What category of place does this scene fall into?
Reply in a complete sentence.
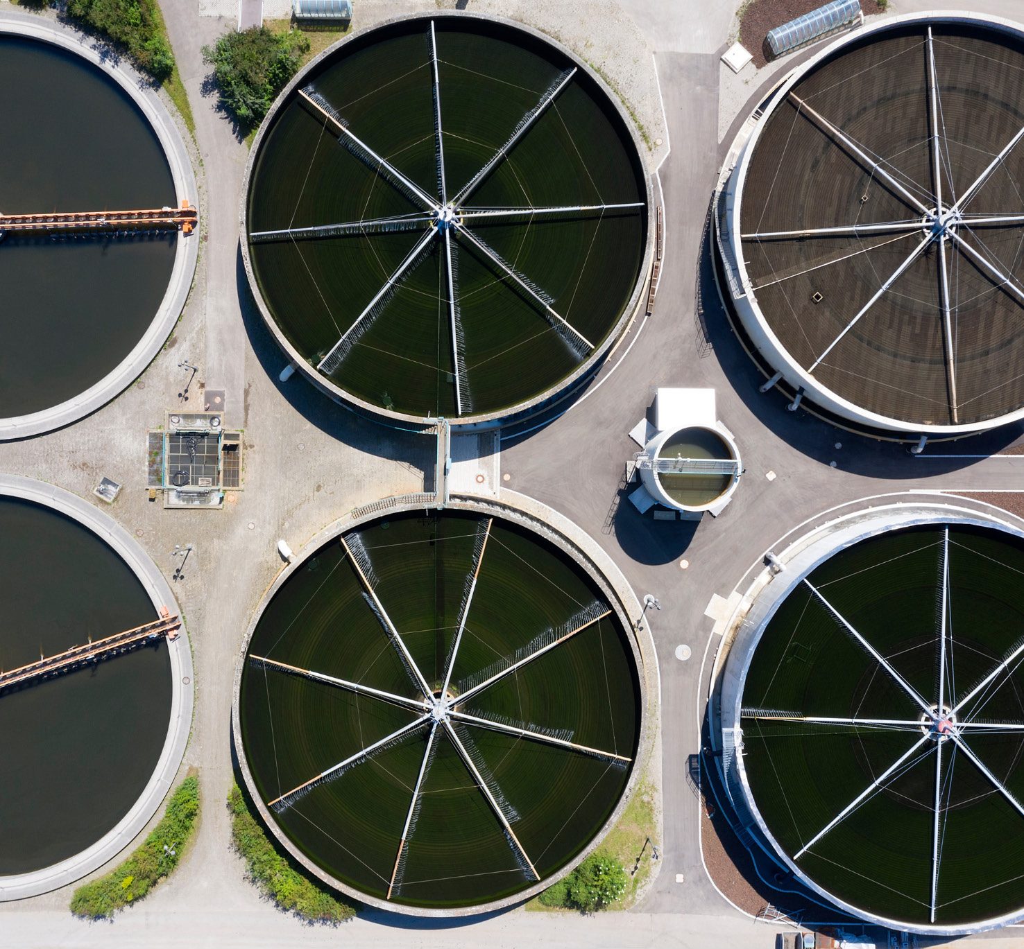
The area seen from above is an industrial area.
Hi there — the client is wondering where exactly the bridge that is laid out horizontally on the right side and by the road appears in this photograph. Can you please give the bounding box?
[653,452,747,475]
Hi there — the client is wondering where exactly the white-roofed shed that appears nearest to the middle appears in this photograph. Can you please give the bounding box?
[655,388,715,438]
